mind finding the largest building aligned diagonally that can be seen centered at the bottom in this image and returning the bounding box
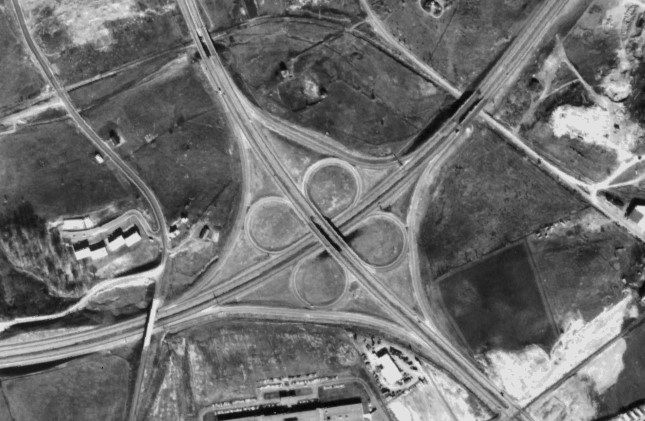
[377,353,403,384]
